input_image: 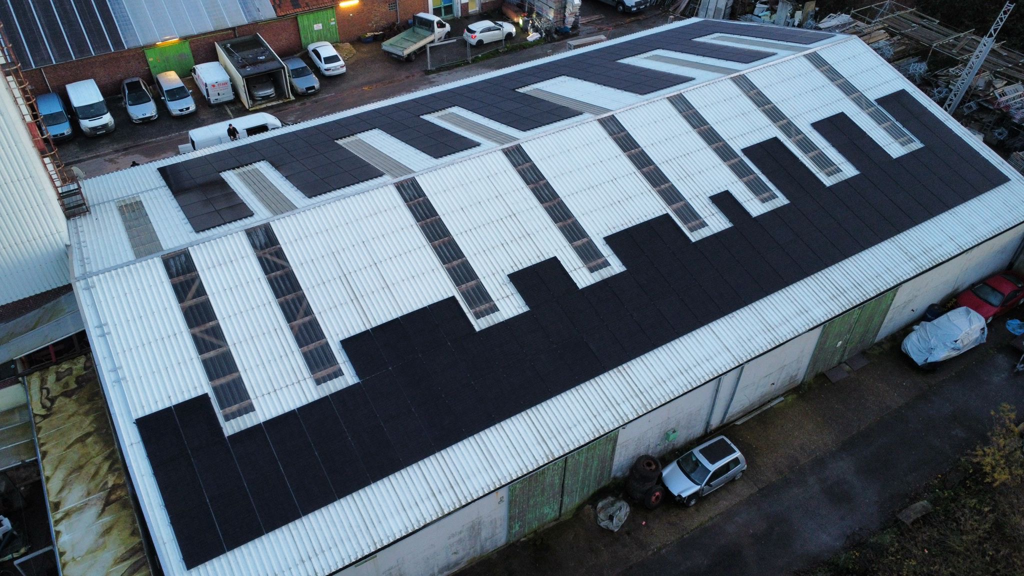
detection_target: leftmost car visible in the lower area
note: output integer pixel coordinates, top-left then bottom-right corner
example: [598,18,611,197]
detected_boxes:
[662,430,750,502]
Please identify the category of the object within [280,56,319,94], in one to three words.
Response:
car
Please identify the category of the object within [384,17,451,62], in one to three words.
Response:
truck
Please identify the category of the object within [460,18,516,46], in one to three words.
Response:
car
